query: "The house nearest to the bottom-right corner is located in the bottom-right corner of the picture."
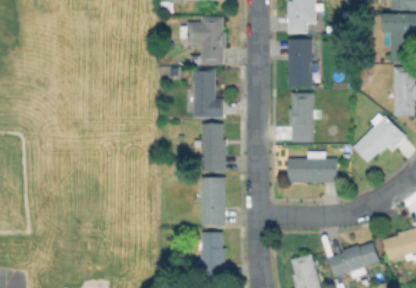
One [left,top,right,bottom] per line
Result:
[382,228,416,262]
